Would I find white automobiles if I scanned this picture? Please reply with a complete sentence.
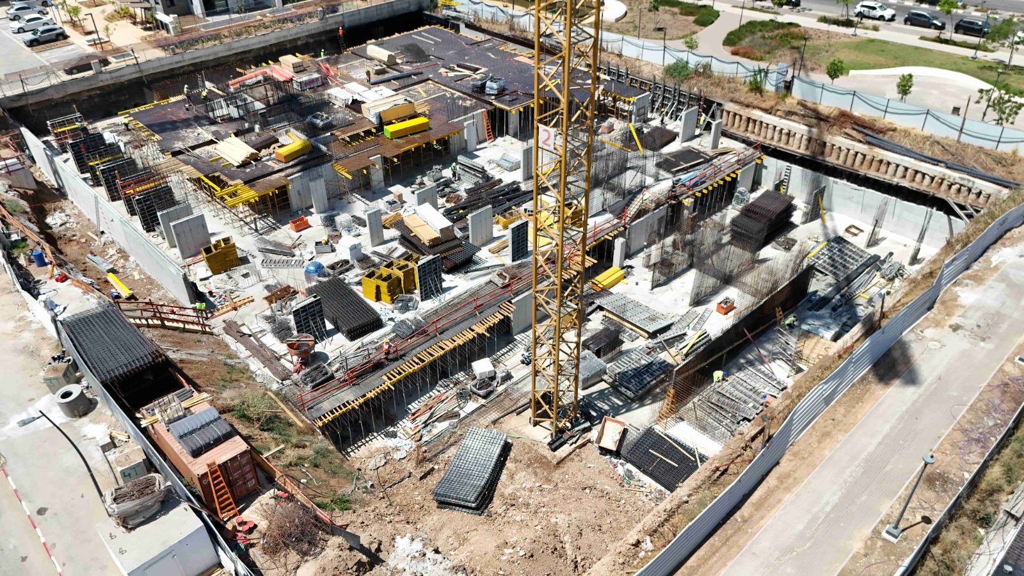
Yes, a white automobile can be made out from above.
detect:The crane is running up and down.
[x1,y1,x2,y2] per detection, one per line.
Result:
[528,0,604,444]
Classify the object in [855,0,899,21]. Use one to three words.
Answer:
car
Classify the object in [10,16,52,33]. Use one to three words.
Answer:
car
